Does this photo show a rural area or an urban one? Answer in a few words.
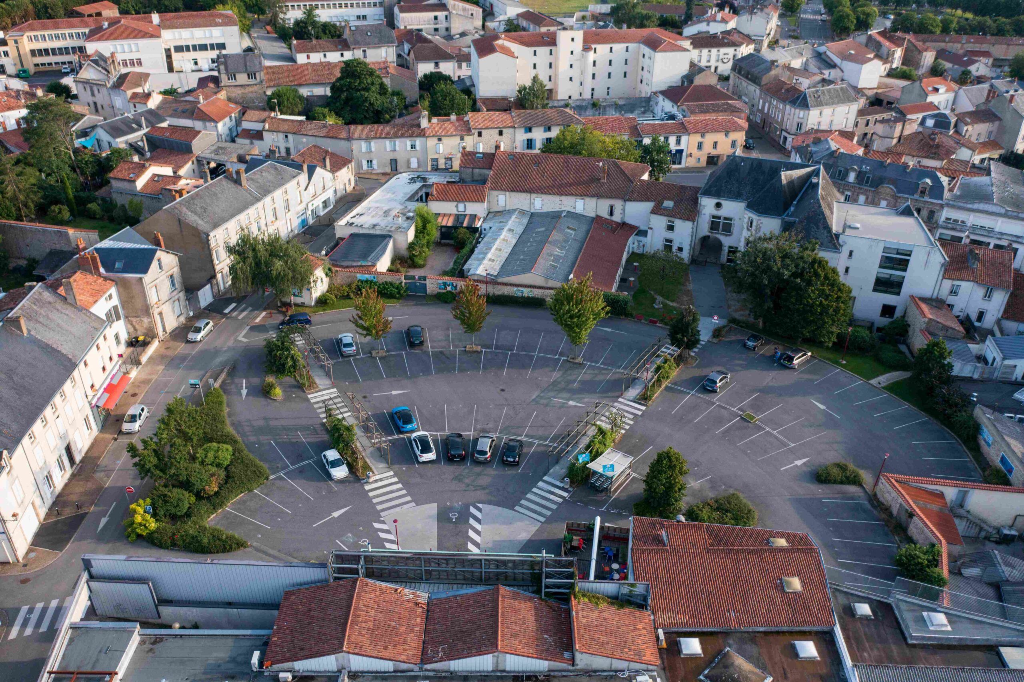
urban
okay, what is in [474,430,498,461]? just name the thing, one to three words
car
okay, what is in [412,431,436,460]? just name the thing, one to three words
car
